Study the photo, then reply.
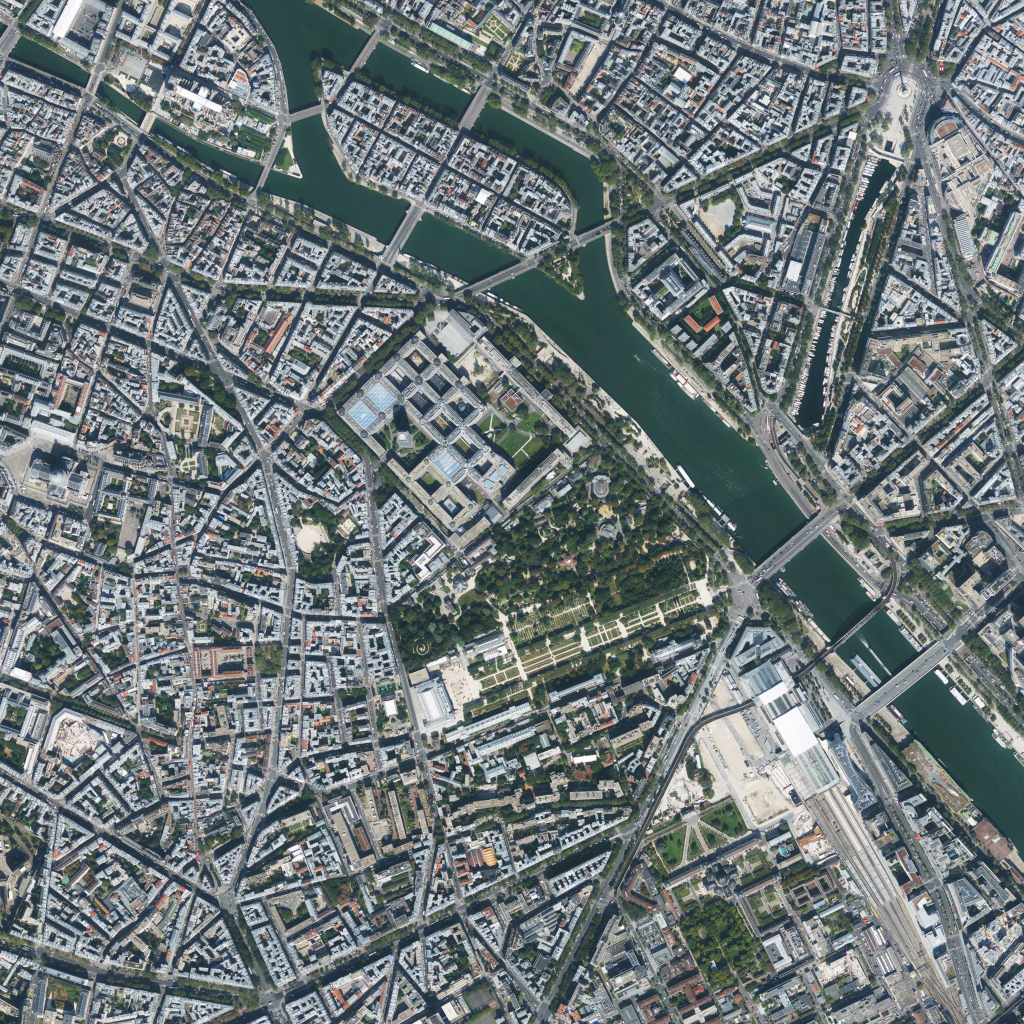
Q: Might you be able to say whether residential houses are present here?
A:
Yes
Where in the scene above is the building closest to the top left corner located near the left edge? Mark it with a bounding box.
[21,0,116,62]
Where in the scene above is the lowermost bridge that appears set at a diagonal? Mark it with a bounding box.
[618,699,755,889]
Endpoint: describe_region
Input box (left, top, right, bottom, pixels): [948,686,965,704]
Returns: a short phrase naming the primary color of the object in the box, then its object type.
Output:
white boat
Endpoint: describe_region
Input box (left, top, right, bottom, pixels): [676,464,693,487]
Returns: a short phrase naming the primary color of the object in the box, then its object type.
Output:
white boat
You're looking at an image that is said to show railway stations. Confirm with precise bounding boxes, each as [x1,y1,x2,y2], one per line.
[738,657,839,793]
